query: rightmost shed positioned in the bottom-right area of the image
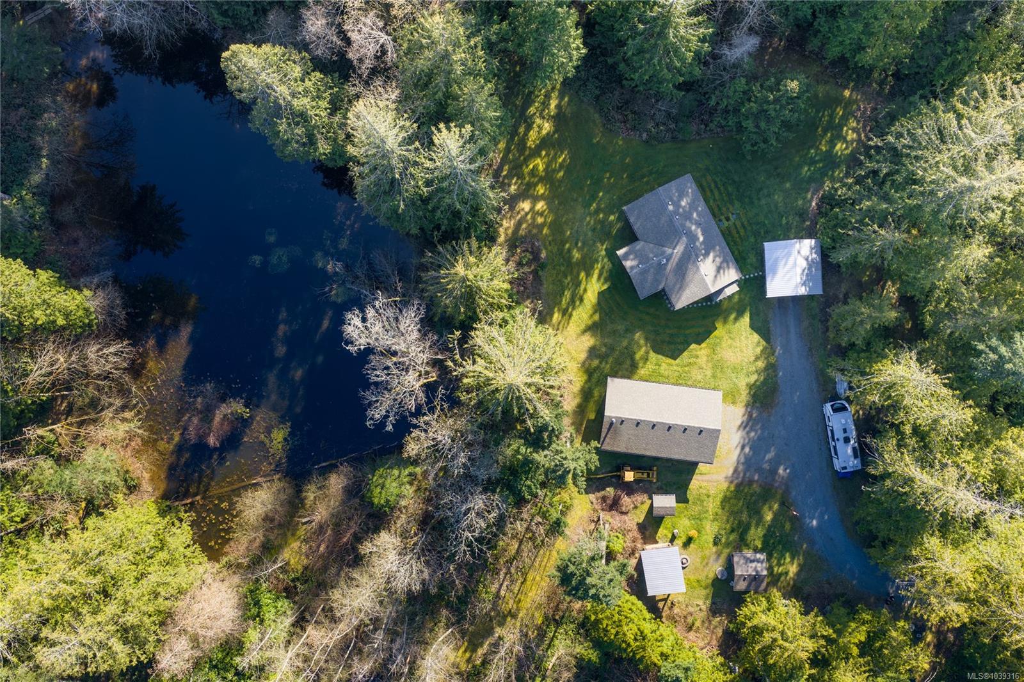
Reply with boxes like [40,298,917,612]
[730,549,769,591]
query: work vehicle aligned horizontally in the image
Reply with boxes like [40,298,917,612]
[592,461,660,484]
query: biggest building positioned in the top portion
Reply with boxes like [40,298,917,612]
[617,174,742,312]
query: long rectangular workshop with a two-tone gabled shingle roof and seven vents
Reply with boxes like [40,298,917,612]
[599,375,723,464]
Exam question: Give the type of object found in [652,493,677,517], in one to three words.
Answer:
shed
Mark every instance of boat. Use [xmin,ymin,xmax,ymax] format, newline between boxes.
[835,373,848,399]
